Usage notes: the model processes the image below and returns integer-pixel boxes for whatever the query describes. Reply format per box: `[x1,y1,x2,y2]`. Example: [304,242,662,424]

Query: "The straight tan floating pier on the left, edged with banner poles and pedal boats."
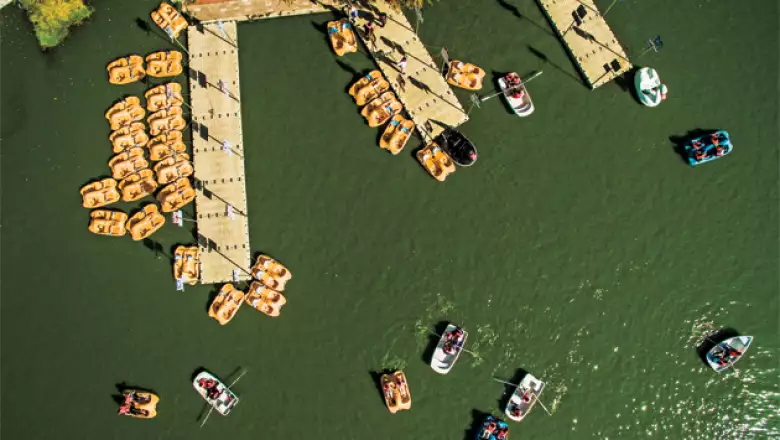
[185,23,252,285]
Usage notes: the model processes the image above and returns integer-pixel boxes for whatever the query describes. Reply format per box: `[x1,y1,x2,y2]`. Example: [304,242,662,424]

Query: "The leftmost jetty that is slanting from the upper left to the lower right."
[340,0,470,145]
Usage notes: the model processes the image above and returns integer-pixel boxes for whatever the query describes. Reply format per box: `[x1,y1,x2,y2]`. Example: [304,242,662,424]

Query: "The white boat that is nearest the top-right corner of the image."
[633,67,666,108]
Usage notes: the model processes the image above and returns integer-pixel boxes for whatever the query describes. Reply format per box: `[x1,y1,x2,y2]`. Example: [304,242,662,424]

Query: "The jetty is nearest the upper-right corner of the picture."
[533,0,634,91]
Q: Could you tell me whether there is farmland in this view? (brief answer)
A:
No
